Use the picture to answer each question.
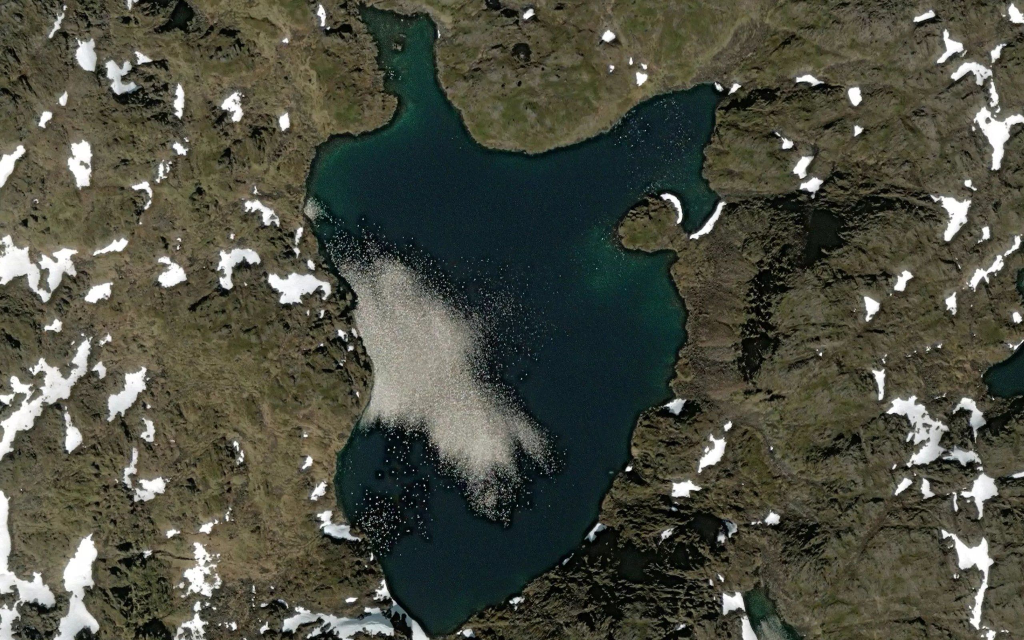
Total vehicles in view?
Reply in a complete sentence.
The picture shows no vehicles.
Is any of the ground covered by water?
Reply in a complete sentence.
Yes, there is water in the image.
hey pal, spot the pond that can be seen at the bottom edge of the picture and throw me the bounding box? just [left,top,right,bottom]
[744,586,804,640]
